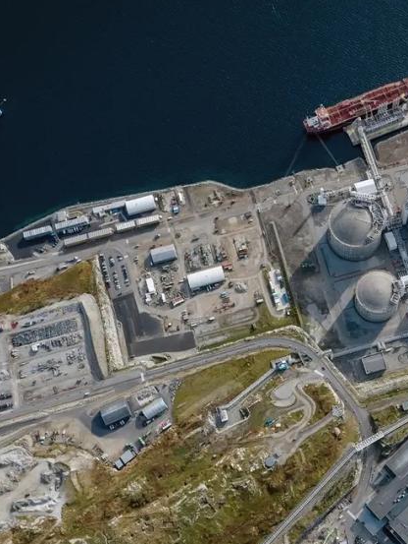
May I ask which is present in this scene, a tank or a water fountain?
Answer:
tank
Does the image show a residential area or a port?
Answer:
port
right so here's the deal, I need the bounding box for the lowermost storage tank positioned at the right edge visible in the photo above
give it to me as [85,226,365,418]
[354,270,402,321]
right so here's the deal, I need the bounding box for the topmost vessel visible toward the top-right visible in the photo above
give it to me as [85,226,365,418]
[301,79,408,136]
